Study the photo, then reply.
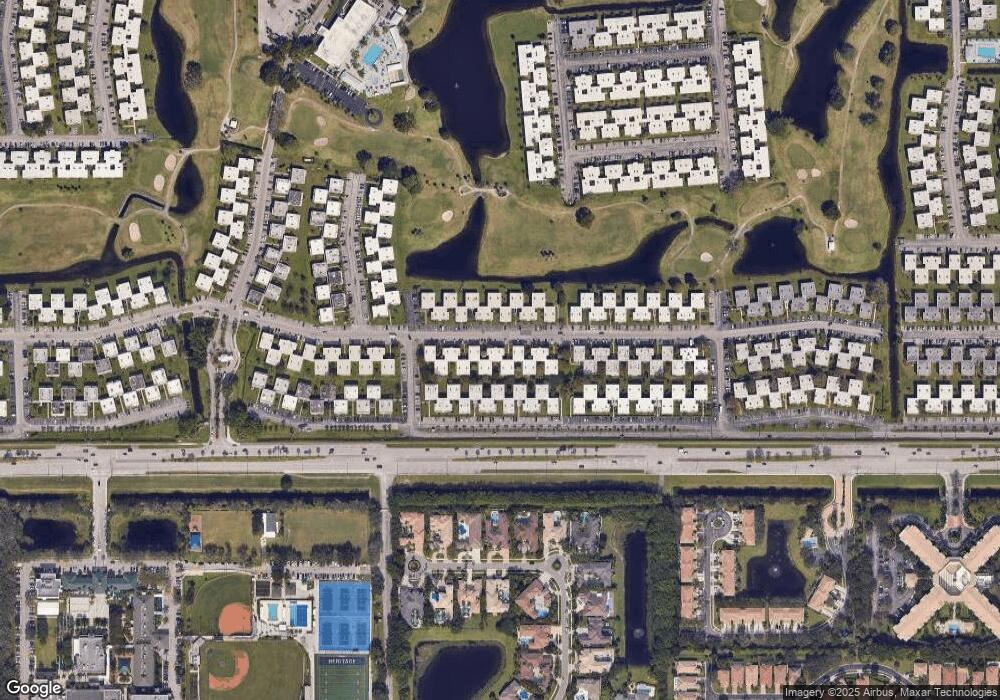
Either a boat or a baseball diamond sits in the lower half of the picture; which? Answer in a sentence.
The feature located in the lower half of the picture is a baseball diamond.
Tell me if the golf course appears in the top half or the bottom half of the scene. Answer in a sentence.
You can find the golf course in the top half.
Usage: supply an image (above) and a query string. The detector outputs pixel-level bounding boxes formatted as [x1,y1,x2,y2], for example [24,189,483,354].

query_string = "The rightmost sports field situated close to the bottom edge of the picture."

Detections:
[315,654,369,700]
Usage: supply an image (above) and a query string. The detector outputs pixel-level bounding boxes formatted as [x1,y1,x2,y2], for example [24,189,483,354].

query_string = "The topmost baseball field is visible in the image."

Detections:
[184,573,253,637]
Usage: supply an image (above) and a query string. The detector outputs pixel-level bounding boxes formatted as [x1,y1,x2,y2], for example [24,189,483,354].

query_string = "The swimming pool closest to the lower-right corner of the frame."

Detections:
[937,620,975,636]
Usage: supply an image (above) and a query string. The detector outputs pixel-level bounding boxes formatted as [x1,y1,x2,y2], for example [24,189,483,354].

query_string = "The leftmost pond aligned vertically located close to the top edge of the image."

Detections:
[152,0,197,148]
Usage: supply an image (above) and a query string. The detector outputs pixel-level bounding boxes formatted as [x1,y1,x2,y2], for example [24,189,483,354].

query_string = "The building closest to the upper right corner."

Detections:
[968,0,998,30]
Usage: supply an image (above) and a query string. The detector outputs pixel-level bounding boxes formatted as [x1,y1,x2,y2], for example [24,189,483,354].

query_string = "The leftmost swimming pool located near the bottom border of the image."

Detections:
[115,655,132,683]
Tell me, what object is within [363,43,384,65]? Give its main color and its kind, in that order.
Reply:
blue swimming pool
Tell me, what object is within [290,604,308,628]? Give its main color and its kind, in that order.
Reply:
blue swimming pool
